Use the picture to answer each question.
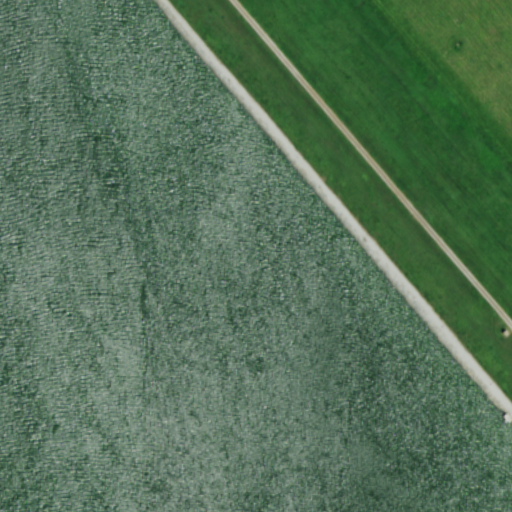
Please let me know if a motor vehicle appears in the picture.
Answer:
No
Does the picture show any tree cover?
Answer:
No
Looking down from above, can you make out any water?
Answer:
Yes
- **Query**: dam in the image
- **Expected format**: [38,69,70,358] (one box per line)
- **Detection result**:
[155,0,512,414]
